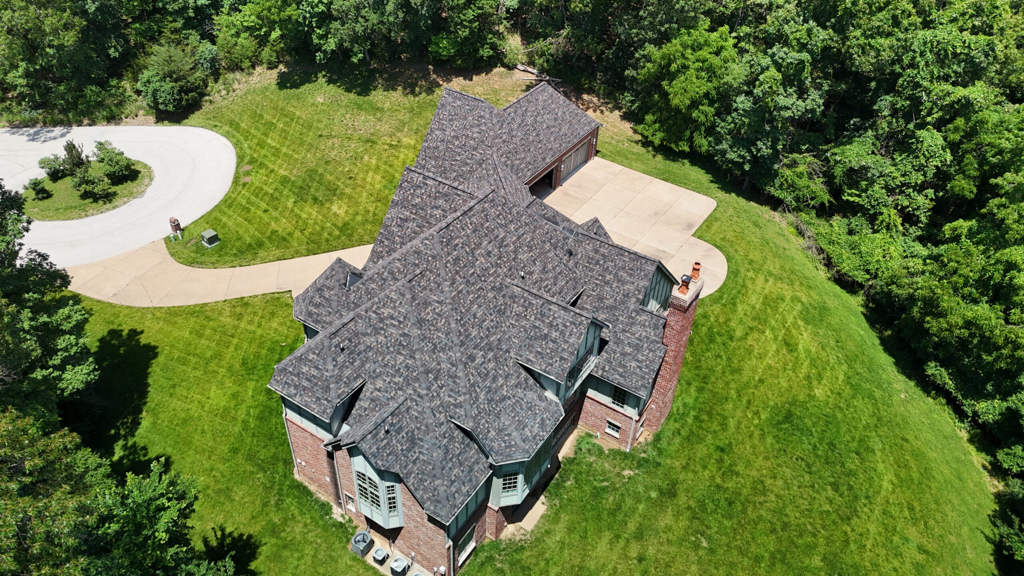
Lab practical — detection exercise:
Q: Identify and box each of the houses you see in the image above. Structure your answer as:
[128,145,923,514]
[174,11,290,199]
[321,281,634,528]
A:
[265,82,703,576]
